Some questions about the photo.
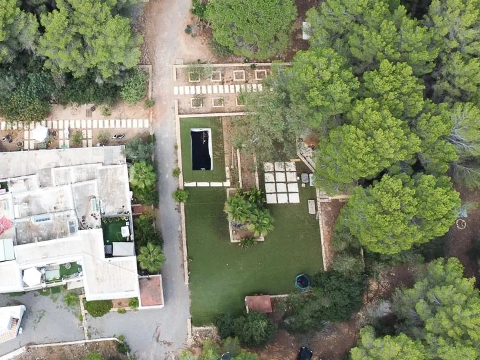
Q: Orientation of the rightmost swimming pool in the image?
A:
up and down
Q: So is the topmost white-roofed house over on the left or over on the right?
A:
left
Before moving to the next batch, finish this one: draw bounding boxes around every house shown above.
[0,145,163,310]
[0,306,28,345]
